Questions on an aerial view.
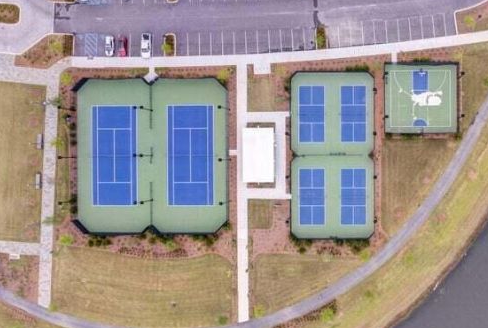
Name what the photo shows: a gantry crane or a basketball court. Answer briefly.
basketball court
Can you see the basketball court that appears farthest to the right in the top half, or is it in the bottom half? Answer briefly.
top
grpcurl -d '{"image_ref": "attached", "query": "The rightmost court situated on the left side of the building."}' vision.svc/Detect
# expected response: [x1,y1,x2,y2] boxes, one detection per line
[151,79,228,234]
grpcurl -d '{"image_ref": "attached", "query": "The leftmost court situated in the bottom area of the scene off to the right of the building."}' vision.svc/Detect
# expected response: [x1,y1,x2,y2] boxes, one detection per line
[291,155,332,240]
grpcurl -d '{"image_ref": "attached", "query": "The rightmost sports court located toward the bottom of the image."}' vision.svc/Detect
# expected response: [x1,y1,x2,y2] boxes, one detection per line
[332,155,374,240]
